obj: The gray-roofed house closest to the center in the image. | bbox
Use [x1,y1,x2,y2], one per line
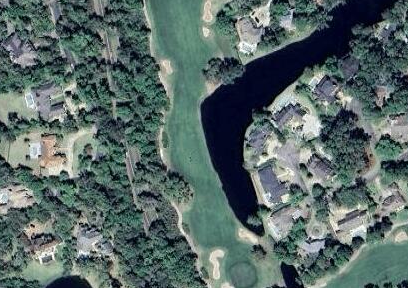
[250,124,274,148]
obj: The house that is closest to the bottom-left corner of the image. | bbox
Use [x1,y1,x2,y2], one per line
[20,229,60,252]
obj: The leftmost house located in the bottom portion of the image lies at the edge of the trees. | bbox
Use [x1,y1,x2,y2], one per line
[2,184,33,205]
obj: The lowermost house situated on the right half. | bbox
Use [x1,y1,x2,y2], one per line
[299,234,328,255]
